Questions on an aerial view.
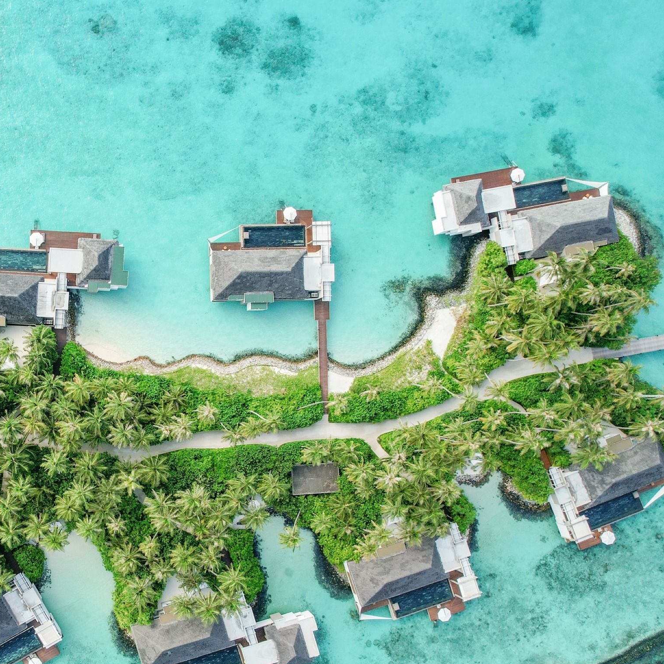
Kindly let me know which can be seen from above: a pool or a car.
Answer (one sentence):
Of the two, only a pool appears.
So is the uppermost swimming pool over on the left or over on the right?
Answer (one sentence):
The uppermost swimming pool appears in the right half of the scene.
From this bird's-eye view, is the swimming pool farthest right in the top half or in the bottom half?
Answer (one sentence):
The bottom half of the photo is where the swimming pool farthest right is.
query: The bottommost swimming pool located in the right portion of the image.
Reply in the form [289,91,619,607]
[386,579,457,622]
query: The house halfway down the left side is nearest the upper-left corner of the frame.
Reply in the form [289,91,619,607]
[0,227,129,334]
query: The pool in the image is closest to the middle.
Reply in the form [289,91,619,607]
[239,225,307,249]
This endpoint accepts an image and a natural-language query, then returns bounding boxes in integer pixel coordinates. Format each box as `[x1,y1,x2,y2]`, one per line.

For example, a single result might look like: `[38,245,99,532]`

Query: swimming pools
[585,482,658,526]
[508,175,574,209]
[0,625,46,664]
[239,225,307,249]
[0,248,49,273]
[386,579,457,622]
[175,645,243,664]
